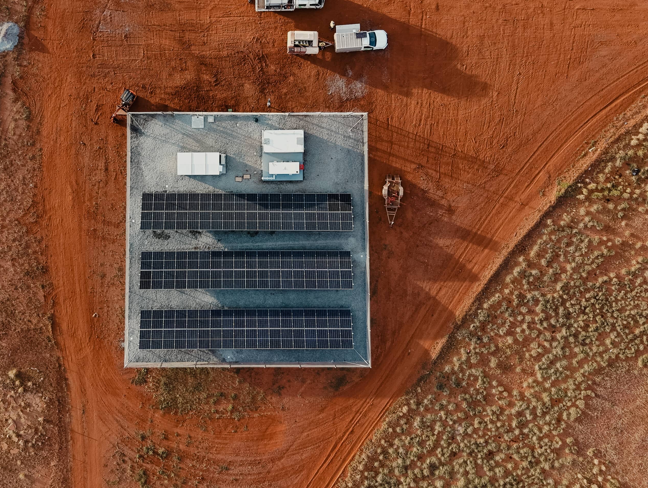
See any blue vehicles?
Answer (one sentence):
No, I find no blue vehicle anywhere in the image.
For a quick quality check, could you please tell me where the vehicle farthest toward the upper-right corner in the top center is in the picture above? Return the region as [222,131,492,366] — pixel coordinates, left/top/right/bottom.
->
[332,17,389,52]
